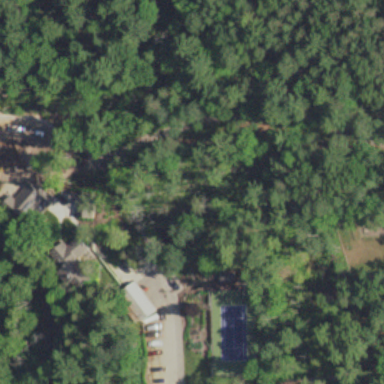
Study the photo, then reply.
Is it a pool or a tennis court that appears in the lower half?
tennis court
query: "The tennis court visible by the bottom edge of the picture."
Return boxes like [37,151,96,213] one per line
[210,292,254,373]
